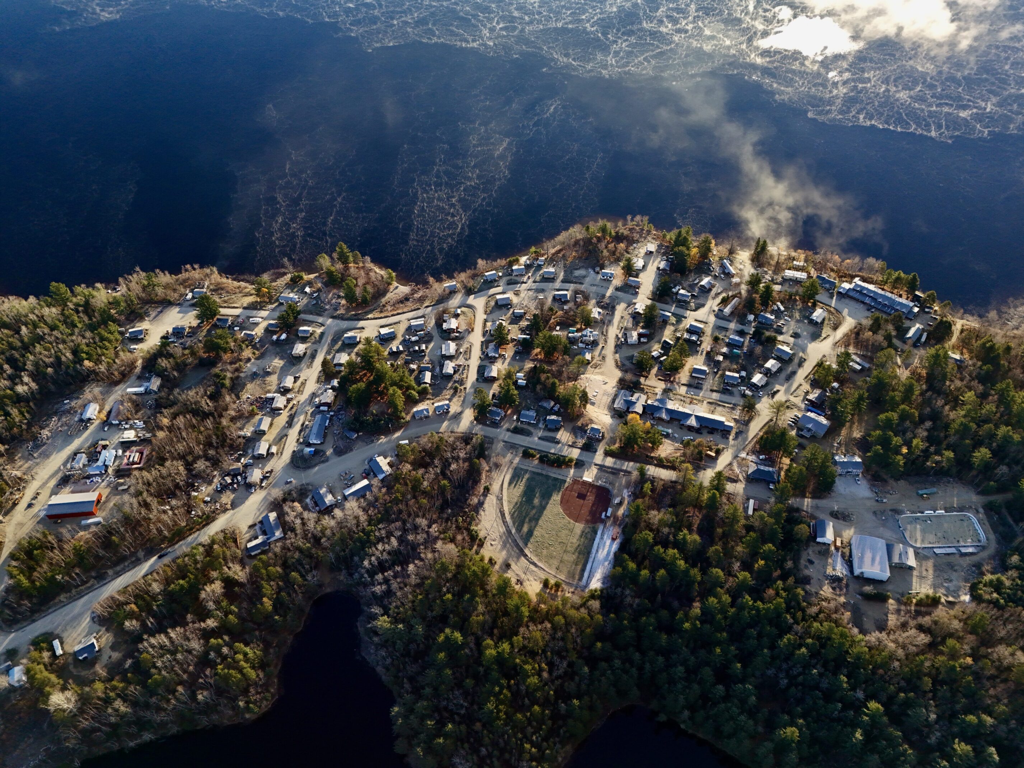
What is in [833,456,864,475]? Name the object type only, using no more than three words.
house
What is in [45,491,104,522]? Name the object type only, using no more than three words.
barn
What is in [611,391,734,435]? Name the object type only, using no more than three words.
building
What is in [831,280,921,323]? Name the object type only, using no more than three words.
building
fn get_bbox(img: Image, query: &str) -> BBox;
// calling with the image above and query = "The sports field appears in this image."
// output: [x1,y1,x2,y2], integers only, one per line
[507,467,600,584]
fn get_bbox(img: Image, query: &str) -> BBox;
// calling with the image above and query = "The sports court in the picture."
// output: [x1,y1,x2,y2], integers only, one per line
[899,511,987,548]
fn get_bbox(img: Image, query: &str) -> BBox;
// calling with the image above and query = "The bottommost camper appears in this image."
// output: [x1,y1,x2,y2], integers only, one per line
[50,637,62,655]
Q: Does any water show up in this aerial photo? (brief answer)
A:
Yes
